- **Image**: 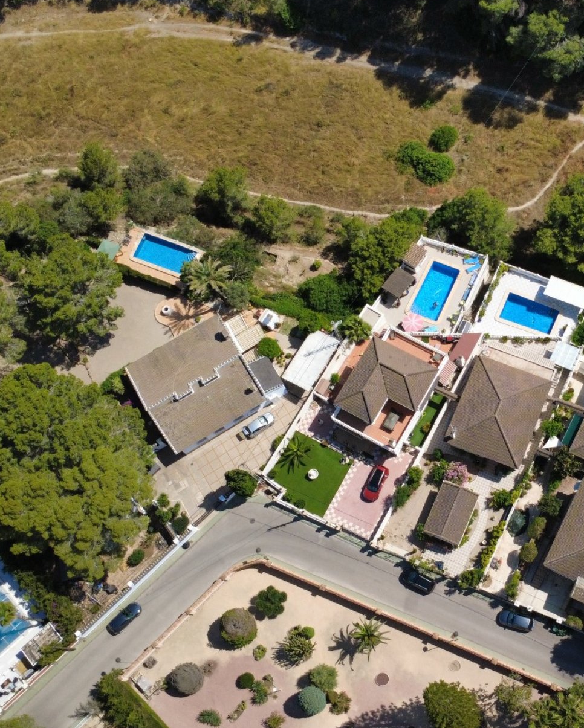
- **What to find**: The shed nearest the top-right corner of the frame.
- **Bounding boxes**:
[403,246,428,278]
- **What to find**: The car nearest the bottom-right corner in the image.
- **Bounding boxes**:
[494,607,538,637]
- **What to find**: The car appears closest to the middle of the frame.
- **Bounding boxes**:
[237,412,278,443]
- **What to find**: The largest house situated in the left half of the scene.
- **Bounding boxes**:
[124,312,266,456]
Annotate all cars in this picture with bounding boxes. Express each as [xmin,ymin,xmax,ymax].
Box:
[397,567,440,598]
[361,462,391,505]
[237,412,278,443]
[494,607,538,637]
[101,599,147,641]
